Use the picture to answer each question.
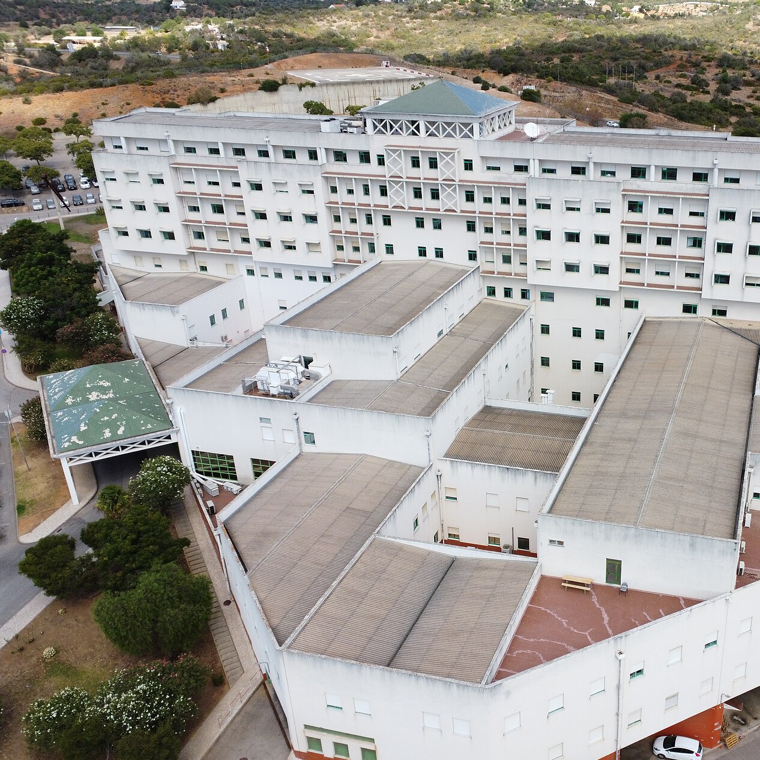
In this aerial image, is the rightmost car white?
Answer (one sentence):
Yes, the rightmost car is white.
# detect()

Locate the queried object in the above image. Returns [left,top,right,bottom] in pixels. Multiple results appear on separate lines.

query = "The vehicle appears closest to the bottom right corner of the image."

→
[651,732,705,760]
